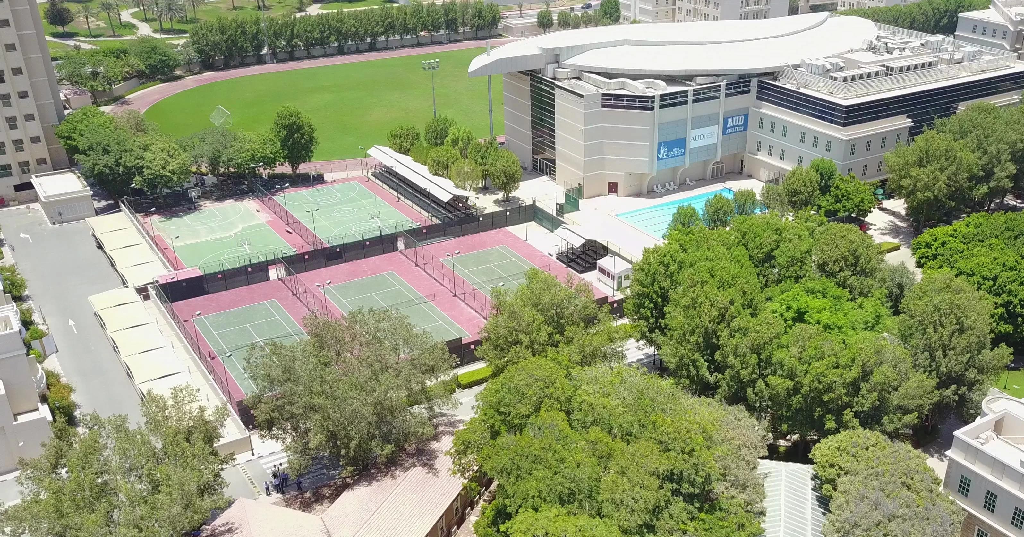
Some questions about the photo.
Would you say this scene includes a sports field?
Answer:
Yes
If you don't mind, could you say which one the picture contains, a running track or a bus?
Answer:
running track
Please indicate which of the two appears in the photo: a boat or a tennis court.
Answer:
tennis court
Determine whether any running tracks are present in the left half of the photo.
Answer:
Yes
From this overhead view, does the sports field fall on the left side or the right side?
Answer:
left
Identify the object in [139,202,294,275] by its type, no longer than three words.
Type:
basketball court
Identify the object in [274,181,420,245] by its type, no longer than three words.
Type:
basketball court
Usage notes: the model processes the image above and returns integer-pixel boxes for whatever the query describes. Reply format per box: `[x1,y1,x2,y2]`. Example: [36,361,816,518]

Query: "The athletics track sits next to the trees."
[102,39,513,165]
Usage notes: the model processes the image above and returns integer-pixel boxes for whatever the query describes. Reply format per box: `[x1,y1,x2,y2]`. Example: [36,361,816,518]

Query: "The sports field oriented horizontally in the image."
[140,46,513,154]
